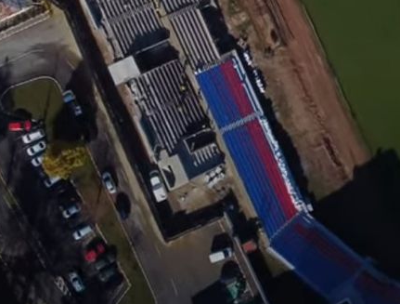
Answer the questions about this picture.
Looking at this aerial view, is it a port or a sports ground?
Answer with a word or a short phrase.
sports ground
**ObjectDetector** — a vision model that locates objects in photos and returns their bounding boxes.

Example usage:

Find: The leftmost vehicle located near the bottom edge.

[66,273,83,293]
